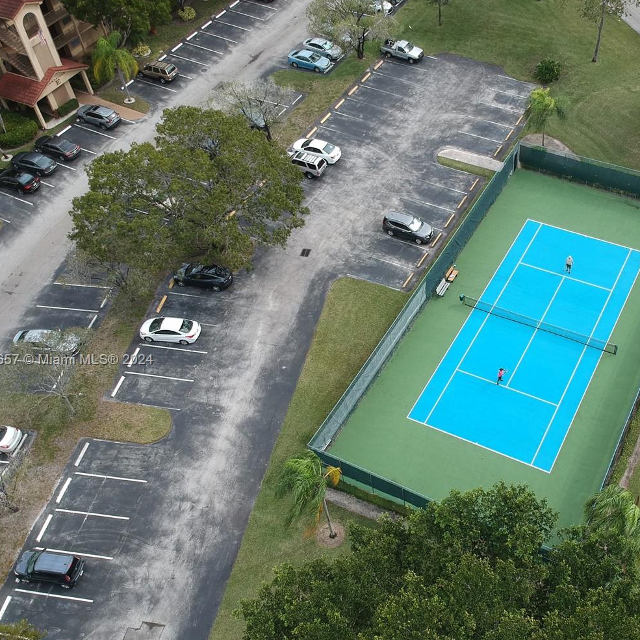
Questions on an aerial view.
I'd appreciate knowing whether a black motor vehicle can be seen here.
Yes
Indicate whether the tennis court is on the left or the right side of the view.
right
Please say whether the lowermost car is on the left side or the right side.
left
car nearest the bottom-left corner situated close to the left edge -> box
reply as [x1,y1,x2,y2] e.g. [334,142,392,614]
[12,548,89,589]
